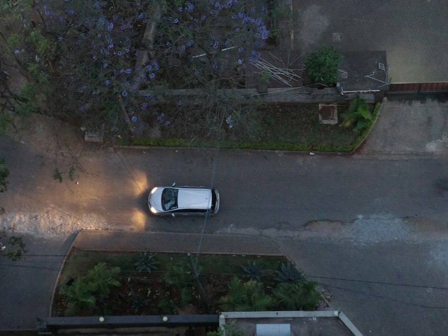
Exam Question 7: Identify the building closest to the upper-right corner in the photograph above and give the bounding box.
[338,50,387,101]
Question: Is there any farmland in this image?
No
